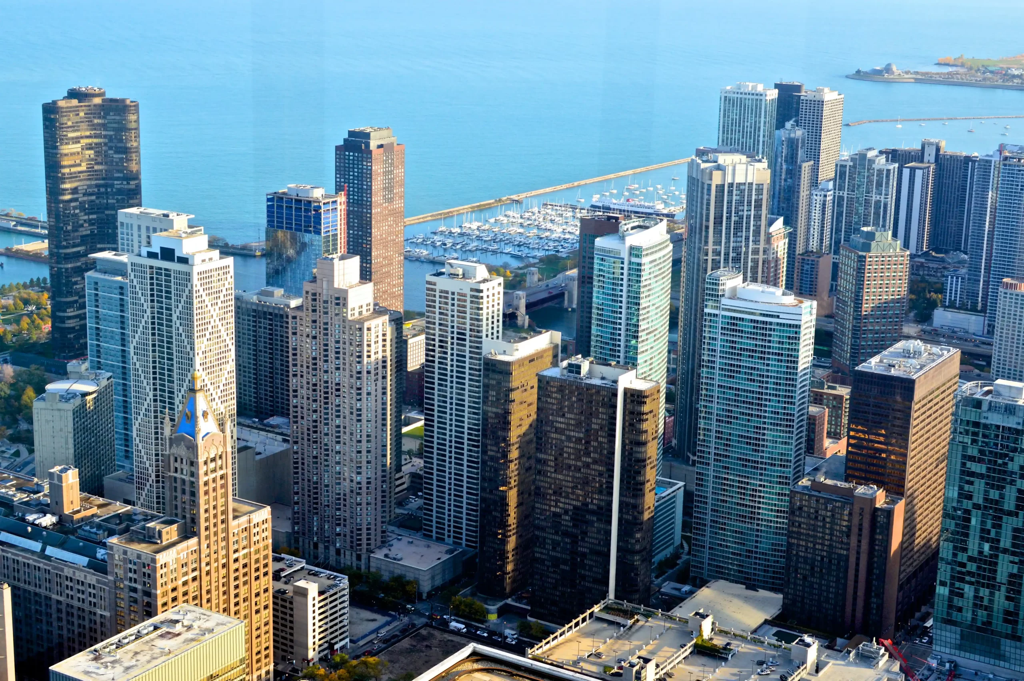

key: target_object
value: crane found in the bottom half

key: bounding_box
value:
[882,629,955,681]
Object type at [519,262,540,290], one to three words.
house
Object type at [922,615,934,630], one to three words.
vehicle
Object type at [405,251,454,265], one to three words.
pier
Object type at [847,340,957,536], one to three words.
building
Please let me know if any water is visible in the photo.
Yes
